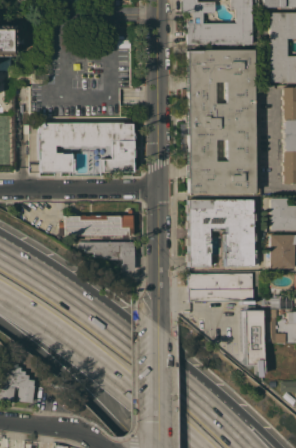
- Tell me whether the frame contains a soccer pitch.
No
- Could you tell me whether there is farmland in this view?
No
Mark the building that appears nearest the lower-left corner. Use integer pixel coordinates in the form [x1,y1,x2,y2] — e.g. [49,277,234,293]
[0,368,35,403]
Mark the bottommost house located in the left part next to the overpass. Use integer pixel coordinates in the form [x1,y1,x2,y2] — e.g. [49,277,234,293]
[76,242,135,270]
